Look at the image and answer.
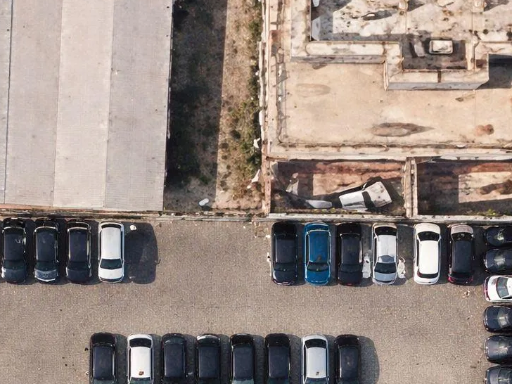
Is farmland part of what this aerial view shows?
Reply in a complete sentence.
No, there is no farmland in the image.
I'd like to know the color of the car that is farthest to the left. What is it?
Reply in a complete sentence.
The color of the car that is farthest to the left is black.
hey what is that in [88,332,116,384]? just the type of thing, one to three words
car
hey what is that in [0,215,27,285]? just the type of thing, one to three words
car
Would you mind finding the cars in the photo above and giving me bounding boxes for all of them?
[481,304,512,334]
[159,331,188,384]
[413,223,443,287]
[64,217,93,286]
[447,224,476,287]
[88,332,116,384]
[0,215,27,285]
[126,331,154,384]
[482,274,512,304]
[303,223,334,288]
[32,216,59,285]
[301,331,330,384]
[228,332,257,384]
[264,331,292,384]
[270,220,300,288]
[481,245,512,276]
[194,331,223,384]
[483,225,512,247]
[482,364,512,384]
[334,331,363,384]
[95,218,126,284]
[371,222,400,288]
[481,333,512,365]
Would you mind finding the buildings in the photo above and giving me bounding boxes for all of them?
[265,0,512,166]
[0,0,175,213]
